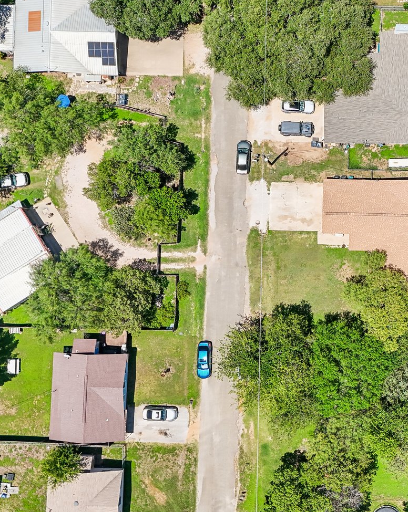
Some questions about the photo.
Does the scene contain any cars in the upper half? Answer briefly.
Yes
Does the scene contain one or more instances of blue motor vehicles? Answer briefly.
Yes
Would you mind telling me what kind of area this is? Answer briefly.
residential area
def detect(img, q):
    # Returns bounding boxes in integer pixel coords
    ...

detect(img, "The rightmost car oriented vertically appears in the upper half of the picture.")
[234,140,252,176]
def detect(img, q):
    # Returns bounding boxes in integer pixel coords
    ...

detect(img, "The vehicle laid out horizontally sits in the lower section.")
[142,405,180,423]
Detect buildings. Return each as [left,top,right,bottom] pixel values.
[0,200,64,312]
[49,339,134,444]
[322,179,408,291]
[45,450,127,512]
[325,24,408,145]
[0,0,121,85]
